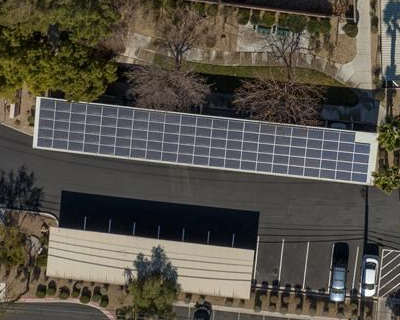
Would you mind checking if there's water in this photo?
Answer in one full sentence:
No, the scene doesn't show any water.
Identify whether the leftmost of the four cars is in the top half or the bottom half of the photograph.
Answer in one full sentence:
You can find the leftmost of the four cars in the bottom half.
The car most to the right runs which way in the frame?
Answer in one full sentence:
Seen from above, the car most to the right lies from top to bottom.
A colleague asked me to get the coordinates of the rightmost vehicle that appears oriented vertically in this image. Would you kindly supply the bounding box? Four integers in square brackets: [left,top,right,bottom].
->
[359,248,380,294]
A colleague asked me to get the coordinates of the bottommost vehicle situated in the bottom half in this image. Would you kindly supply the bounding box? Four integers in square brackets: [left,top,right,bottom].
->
[187,298,209,320]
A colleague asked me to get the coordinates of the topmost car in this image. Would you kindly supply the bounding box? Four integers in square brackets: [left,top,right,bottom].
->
[328,110,349,129]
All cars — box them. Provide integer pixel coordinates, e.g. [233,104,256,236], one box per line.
[187,298,209,320]
[327,248,348,295]
[359,248,380,294]
[328,110,349,129]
